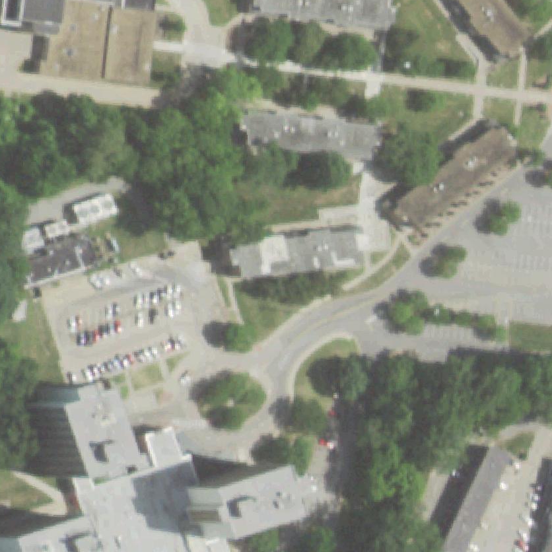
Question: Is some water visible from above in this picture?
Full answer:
No, there's no water in this view.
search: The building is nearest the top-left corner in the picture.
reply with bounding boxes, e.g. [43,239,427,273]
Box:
[0,0,156,86]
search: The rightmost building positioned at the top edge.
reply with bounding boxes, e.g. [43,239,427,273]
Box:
[447,0,533,58]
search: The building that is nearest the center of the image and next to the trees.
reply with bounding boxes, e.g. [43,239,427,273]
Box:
[224,228,364,278]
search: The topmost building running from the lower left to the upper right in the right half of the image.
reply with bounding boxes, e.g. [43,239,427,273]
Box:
[388,126,517,224]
